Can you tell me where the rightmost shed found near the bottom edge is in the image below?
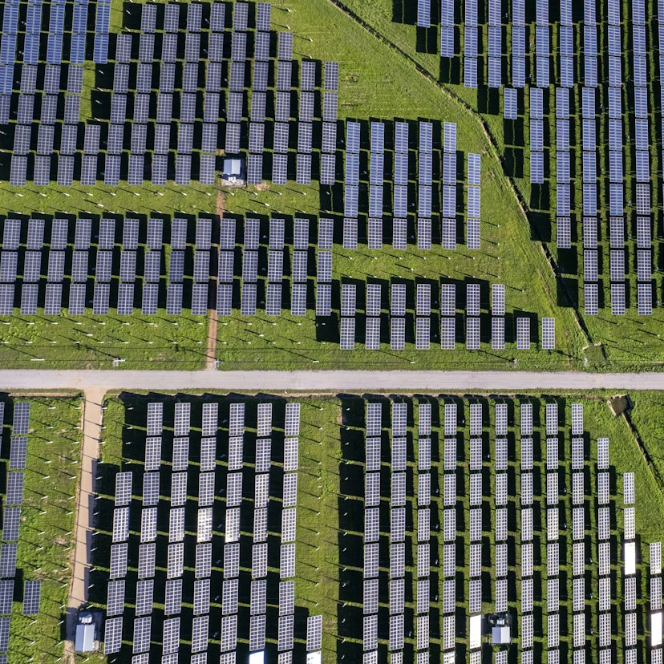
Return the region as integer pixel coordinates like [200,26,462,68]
[491,623,509,645]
